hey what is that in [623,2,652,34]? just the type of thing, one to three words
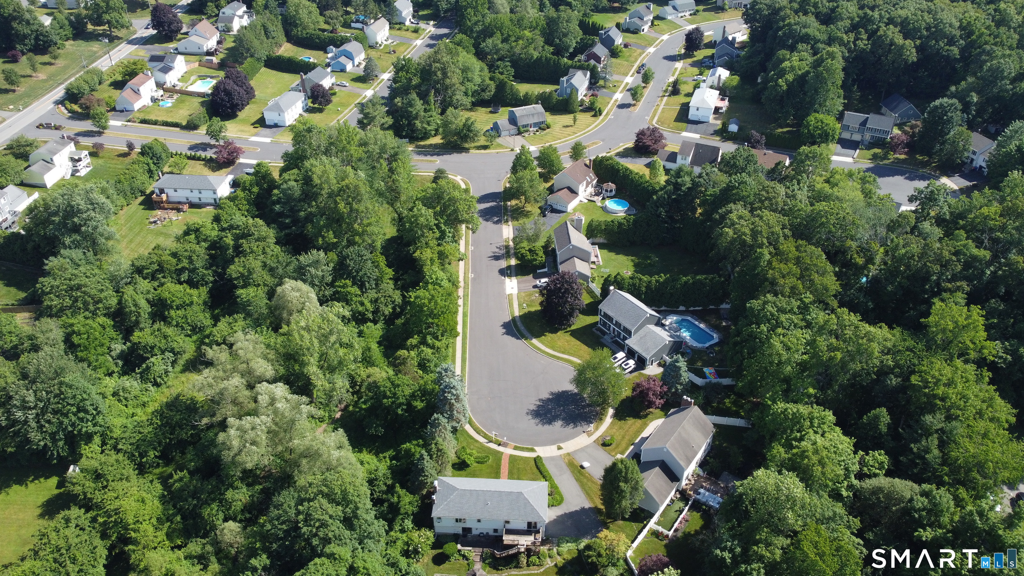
house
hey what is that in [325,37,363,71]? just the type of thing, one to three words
house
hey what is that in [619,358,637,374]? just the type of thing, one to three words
car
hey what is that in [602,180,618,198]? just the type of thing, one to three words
gazebo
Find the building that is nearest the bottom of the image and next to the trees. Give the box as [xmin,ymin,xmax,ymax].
[429,477,549,576]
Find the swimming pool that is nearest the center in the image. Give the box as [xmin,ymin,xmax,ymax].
[602,198,640,216]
